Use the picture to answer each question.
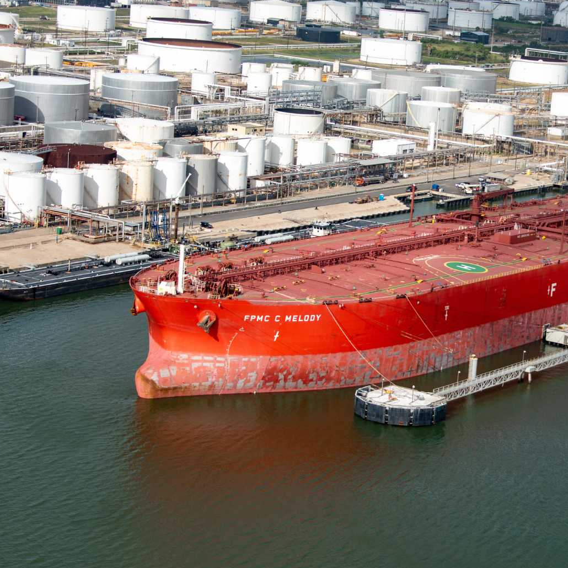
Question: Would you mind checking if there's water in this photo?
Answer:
Yes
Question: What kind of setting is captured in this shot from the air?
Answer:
industrial area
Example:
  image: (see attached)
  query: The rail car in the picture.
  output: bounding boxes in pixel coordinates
[175,125,199,137]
